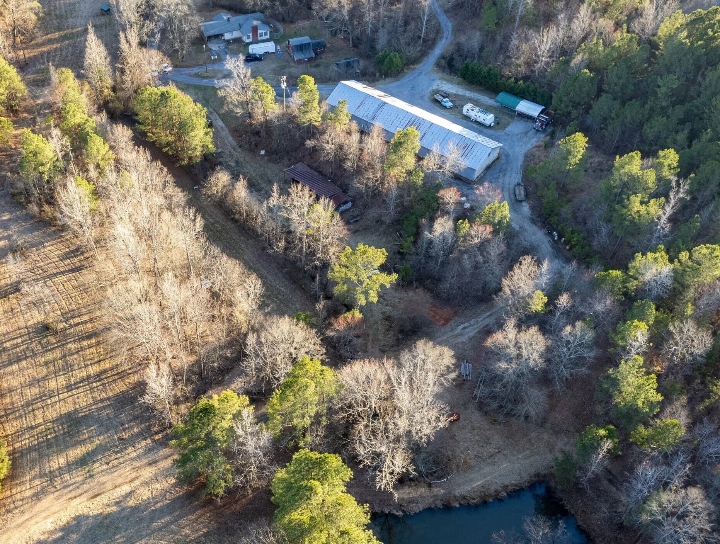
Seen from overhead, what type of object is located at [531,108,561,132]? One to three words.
truck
